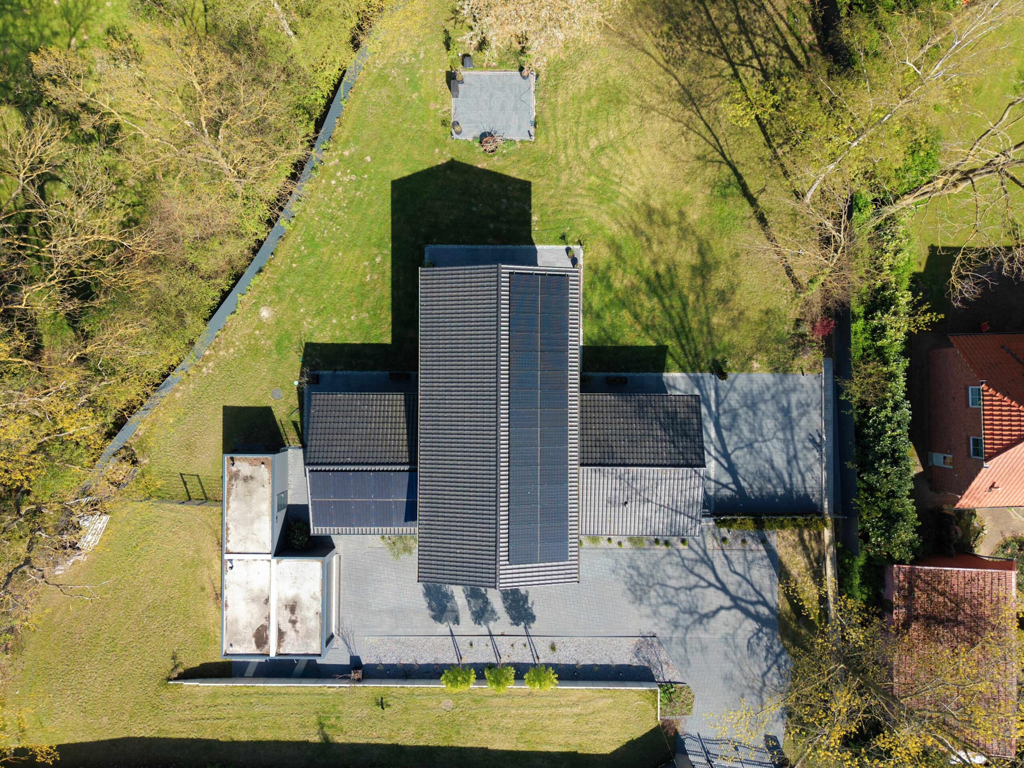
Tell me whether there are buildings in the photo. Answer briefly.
Yes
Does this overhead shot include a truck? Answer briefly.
No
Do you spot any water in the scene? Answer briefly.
No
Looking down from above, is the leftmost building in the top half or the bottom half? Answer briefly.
bottom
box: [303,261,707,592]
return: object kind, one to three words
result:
house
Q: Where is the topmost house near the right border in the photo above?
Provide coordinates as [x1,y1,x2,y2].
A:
[915,332,1024,511]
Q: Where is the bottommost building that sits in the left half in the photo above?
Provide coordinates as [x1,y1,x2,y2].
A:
[222,451,340,658]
